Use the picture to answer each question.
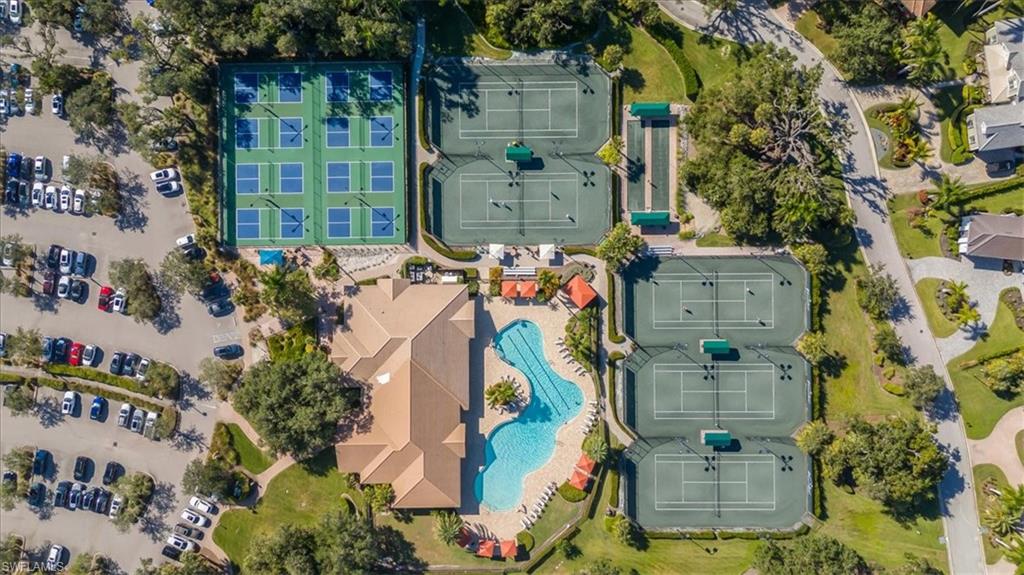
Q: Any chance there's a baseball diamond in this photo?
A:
No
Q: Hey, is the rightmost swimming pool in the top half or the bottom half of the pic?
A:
bottom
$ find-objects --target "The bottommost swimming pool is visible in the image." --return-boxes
[473,318,586,513]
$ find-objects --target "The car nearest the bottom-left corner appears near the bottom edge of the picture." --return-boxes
[49,541,64,566]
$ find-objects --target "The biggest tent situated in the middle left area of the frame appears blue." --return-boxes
[259,250,287,265]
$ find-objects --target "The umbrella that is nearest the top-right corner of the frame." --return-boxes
[540,244,555,259]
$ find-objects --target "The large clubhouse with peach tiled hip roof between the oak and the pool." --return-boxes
[326,279,475,509]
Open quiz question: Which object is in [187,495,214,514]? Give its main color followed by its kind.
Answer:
white vehicle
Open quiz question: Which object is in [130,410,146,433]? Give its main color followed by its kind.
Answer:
gray car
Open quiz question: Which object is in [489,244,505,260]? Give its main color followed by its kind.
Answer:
white umbrella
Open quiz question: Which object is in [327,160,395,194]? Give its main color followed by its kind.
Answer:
blue sports court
